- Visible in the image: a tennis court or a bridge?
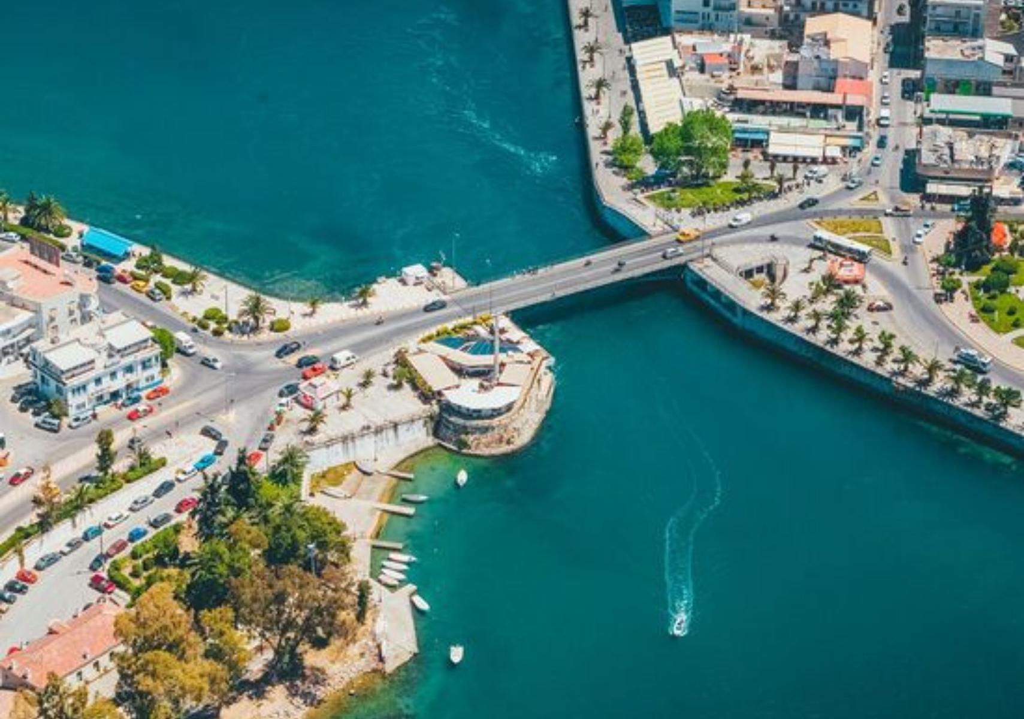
bridge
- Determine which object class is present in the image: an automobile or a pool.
automobile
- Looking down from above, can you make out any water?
Yes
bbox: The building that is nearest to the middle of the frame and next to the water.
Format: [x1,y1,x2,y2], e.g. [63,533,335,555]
[407,316,545,420]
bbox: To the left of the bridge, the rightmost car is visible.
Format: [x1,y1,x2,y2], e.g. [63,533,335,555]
[423,301,447,313]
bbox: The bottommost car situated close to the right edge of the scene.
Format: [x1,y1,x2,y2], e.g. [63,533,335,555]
[957,348,989,370]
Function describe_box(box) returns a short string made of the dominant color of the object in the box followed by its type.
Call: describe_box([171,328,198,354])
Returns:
white truck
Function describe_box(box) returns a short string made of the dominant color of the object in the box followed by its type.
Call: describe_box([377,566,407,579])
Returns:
white boat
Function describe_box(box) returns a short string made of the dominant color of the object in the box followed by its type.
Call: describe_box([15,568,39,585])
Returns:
red car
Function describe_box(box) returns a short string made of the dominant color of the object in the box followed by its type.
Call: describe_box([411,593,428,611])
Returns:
white boat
